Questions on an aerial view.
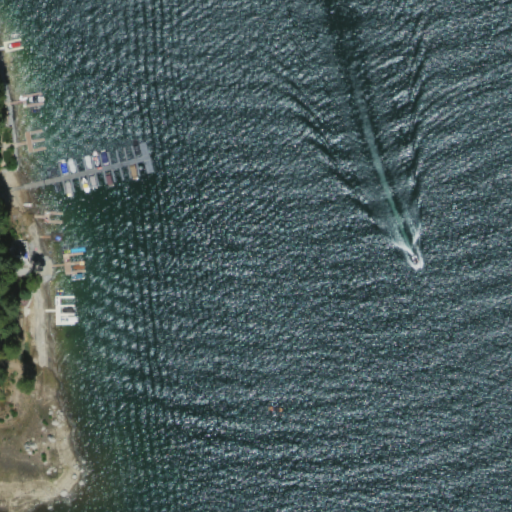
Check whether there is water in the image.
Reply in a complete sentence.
Yes, some water is visible.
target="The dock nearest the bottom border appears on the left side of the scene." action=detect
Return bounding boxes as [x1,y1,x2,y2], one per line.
[44,296,78,326]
